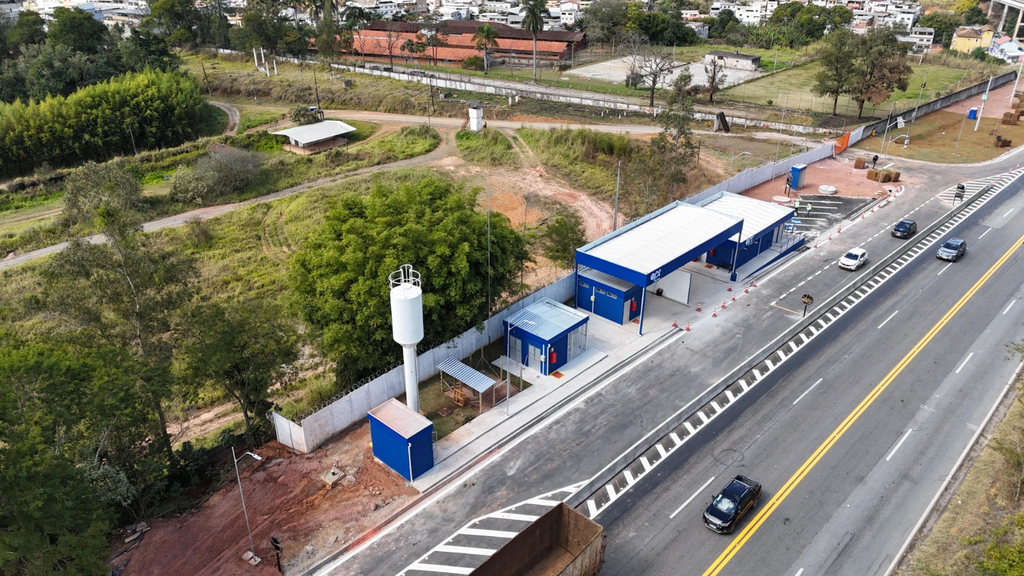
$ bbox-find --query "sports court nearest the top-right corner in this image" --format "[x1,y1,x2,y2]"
[643,62,750,91]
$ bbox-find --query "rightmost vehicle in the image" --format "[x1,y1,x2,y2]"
[938,235,970,261]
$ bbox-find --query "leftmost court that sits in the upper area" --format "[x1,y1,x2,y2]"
[566,56,687,86]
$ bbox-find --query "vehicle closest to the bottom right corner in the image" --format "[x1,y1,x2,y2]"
[703,471,768,531]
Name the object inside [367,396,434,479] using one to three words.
shed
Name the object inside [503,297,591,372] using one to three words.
shed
